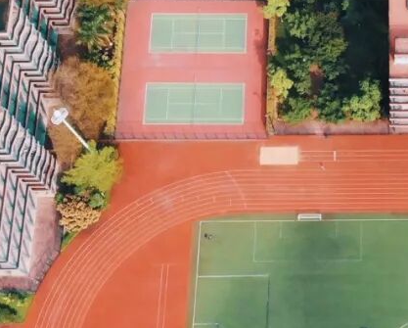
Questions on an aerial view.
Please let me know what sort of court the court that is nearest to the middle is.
tennis court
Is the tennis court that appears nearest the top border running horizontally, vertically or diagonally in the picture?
horizontally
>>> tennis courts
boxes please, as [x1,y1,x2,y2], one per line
[142,79,246,127]
[147,13,248,53]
